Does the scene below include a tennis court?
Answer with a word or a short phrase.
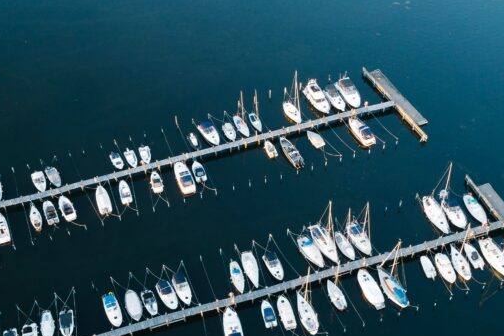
No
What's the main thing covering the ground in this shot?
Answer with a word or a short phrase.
water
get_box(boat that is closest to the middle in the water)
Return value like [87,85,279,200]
[260,140,281,171]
